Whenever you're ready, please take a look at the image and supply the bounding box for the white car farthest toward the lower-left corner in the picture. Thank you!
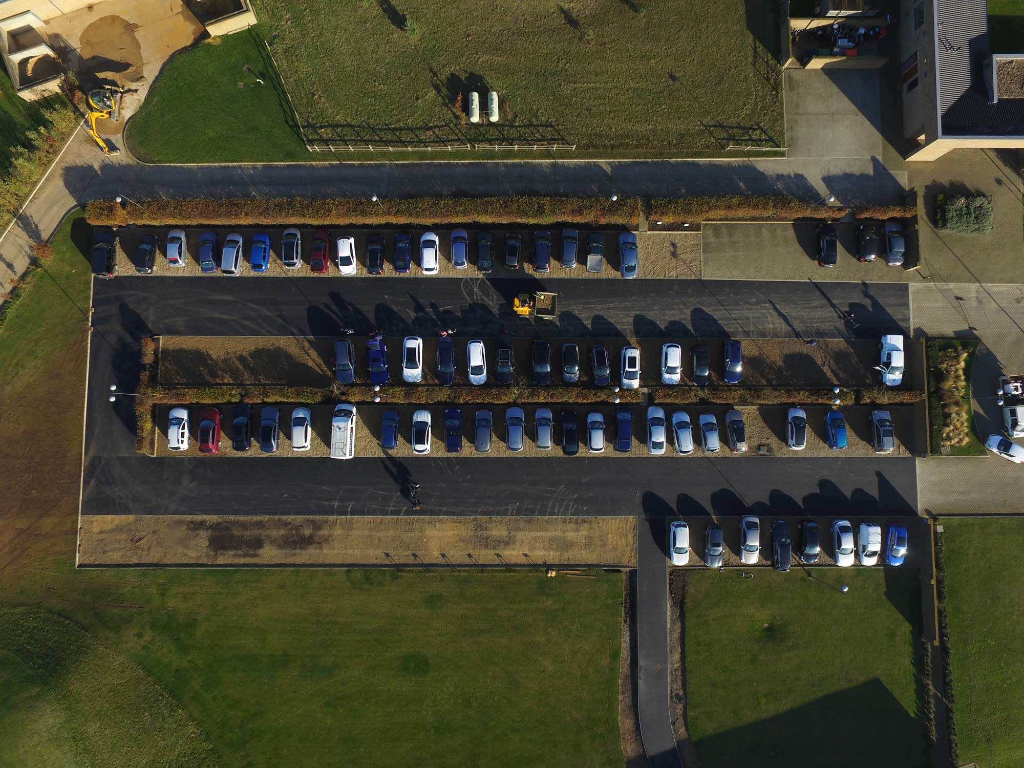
[166,406,194,452]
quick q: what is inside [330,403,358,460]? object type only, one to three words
van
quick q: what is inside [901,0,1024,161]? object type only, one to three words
building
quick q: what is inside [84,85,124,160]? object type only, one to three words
work vehicle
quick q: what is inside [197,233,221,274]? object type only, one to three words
car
